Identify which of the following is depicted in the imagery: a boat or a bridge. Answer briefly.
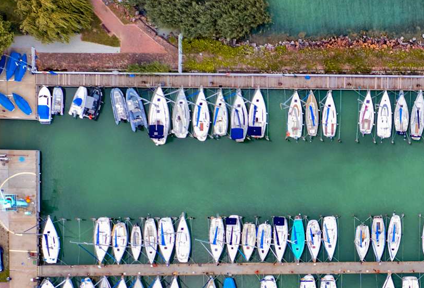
boat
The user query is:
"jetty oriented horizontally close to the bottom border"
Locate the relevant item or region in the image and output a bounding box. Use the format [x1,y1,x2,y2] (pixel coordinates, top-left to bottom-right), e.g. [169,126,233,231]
[41,262,424,278]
